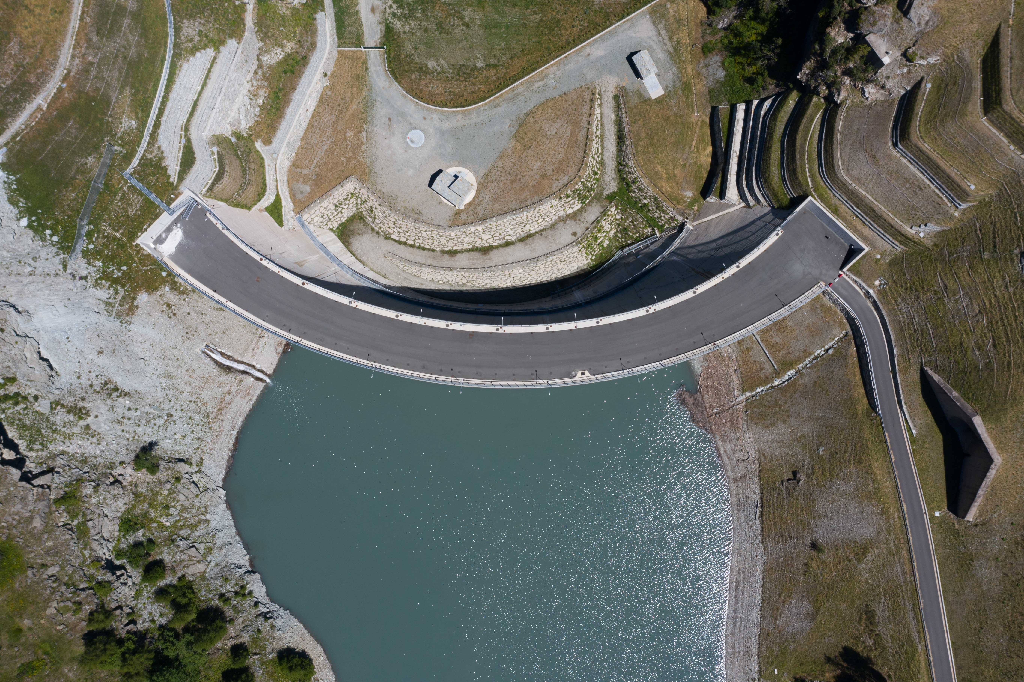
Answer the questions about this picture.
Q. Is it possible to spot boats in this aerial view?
No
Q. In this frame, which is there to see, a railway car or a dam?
dam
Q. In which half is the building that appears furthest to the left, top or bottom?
top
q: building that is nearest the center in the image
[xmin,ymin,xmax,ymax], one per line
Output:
[432,167,477,210]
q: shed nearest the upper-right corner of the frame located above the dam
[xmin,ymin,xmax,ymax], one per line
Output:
[630,50,664,100]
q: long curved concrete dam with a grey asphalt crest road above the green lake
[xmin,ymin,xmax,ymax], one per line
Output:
[136,189,867,387]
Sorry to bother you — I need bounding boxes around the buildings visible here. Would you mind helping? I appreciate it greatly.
[630,50,664,100]
[432,167,477,210]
